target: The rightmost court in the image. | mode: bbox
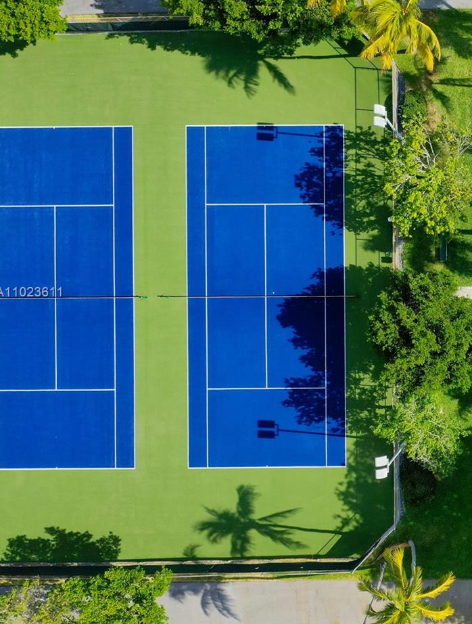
[186,125,346,469]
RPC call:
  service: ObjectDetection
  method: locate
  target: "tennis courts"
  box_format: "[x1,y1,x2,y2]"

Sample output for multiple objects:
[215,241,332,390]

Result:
[186,125,346,469]
[0,126,136,470]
